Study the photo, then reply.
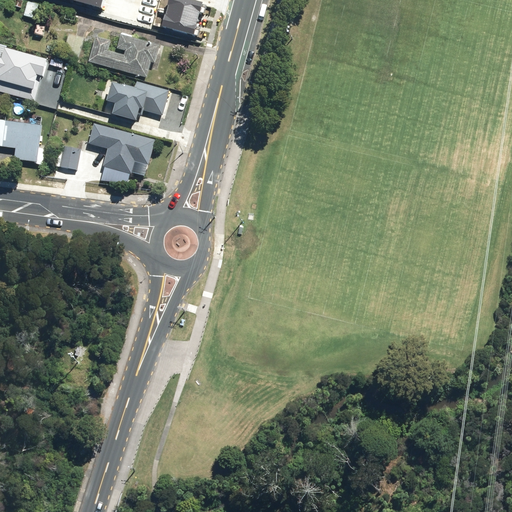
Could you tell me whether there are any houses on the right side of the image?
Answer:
No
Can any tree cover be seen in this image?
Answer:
Yes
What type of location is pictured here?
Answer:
sports ground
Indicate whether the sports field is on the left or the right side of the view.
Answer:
right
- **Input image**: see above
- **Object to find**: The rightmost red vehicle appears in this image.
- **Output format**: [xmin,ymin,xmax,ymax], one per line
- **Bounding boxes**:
[169,192,181,208]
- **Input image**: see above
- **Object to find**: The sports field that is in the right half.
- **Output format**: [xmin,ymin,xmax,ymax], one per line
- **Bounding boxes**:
[156,0,512,492]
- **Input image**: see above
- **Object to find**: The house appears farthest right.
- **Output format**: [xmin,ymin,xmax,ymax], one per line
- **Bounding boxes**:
[162,0,206,38]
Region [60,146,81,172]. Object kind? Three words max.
building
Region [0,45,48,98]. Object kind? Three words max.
house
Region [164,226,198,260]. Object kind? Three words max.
roundabout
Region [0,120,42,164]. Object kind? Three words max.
house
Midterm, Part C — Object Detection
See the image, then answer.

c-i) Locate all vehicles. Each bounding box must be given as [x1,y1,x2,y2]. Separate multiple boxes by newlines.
[142,0,157,6]
[169,192,181,208]
[92,153,106,167]
[94,501,104,512]
[139,6,154,14]
[54,72,62,88]
[178,95,188,110]
[138,15,152,24]
[258,2,268,22]
[47,219,62,226]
